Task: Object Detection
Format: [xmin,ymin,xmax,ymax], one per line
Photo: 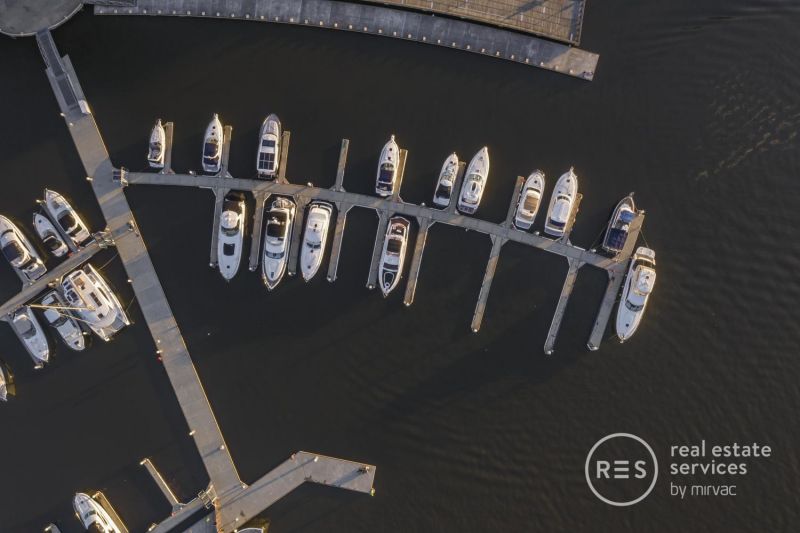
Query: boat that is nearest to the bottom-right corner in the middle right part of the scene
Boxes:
[618,247,661,344]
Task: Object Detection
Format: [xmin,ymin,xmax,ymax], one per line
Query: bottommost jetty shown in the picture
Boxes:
[94,459,209,533]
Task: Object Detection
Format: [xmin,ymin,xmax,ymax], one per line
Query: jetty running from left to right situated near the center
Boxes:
[127,123,645,353]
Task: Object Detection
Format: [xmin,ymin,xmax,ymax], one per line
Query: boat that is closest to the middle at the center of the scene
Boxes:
[380,217,409,295]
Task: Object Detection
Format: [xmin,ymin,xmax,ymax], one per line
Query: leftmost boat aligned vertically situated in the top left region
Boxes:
[146,118,168,168]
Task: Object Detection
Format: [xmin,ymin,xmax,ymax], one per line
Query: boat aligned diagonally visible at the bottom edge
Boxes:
[73,495,114,533]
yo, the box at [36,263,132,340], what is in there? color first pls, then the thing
white boat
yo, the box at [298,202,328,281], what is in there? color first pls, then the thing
white boat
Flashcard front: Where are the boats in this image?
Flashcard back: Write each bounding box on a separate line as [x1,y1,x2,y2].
[0,216,44,279]
[42,292,80,348]
[434,152,459,209]
[73,495,114,533]
[255,113,280,178]
[202,111,225,172]
[380,217,409,295]
[44,191,89,245]
[239,527,259,533]
[603,191,634,254]
[14,308,49,360]
[146,118,168,168]
[618,247,661,344]
[545,164,577,237]
[36,263,132,340]
[298,202,328,281]
[216,198,244,281]
[515,170,545,229]
[375,134,400,196]
[34,216,67,256]
[456,147,489,214]
[260,198,292,289]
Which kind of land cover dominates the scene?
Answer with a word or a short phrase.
water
